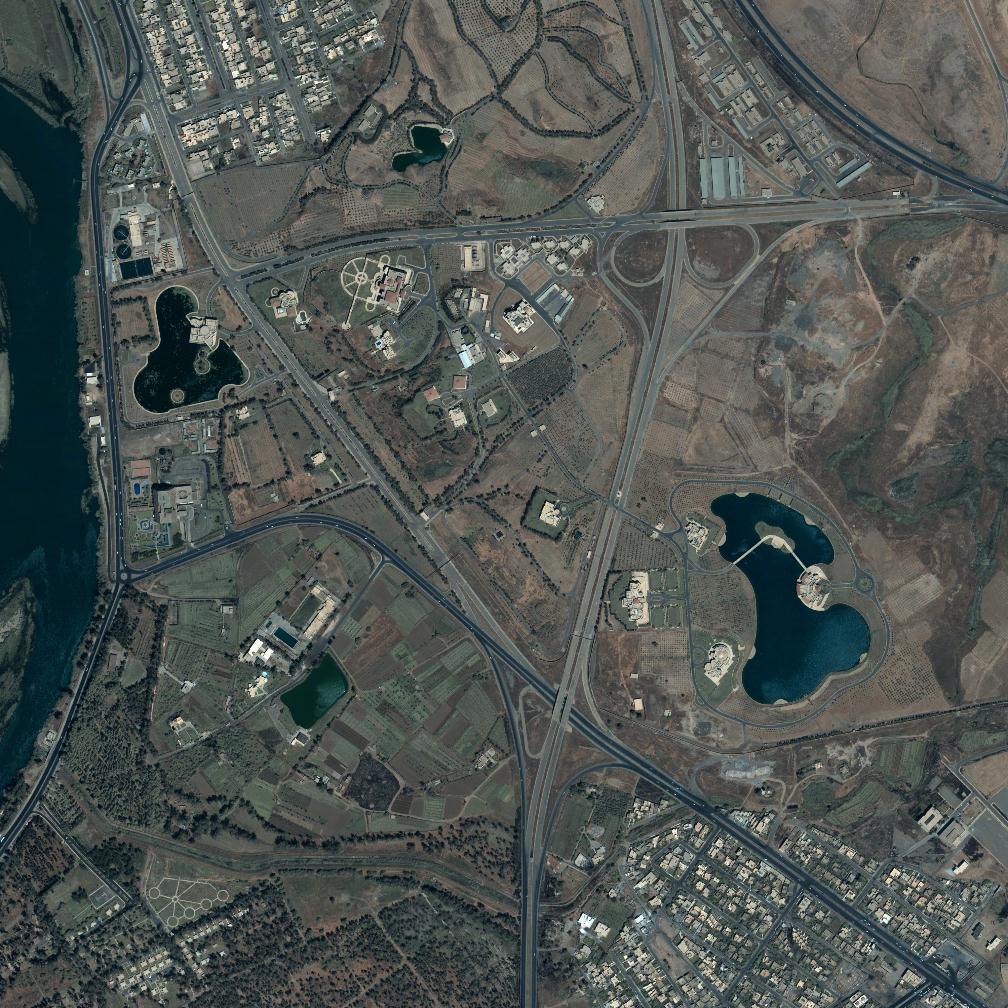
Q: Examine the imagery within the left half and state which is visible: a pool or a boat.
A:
pool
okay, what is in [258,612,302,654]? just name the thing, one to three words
swimming pool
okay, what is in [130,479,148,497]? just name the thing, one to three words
swimming pool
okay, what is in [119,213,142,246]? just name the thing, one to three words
house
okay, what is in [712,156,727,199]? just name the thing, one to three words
building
